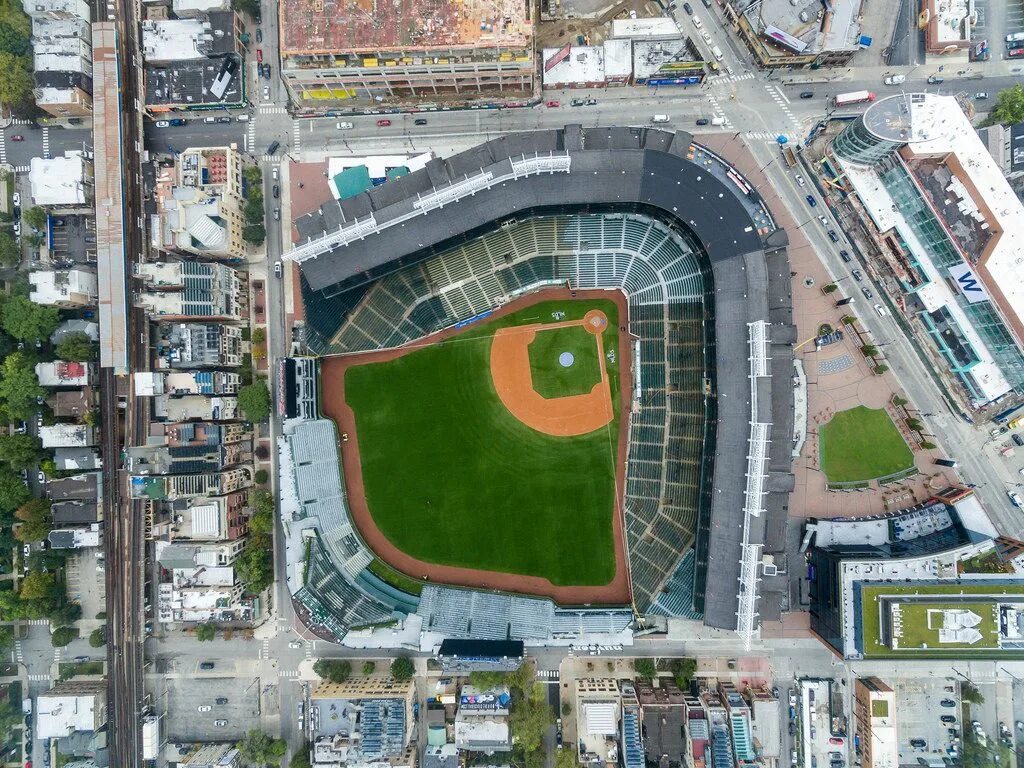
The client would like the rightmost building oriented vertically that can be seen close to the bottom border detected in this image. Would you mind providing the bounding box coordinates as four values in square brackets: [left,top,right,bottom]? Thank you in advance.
[853,677,898,768]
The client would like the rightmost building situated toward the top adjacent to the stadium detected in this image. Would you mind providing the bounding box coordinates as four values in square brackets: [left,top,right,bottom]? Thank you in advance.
[818,90,1024,400]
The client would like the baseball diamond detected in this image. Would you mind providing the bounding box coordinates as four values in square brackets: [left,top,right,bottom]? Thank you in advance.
[320,282,637,603]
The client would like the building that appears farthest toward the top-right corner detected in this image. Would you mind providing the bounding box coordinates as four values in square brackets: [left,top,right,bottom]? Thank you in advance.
[919,0,980,57]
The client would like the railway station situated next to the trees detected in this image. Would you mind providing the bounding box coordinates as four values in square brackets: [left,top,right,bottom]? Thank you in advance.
[92,22,129,378]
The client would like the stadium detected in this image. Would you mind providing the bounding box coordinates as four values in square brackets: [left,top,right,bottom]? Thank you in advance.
[277,125,807,672]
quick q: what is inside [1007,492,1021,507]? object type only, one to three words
vehicle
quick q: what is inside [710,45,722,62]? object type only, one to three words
vehicle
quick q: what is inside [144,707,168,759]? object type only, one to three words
shed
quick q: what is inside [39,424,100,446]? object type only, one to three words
house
